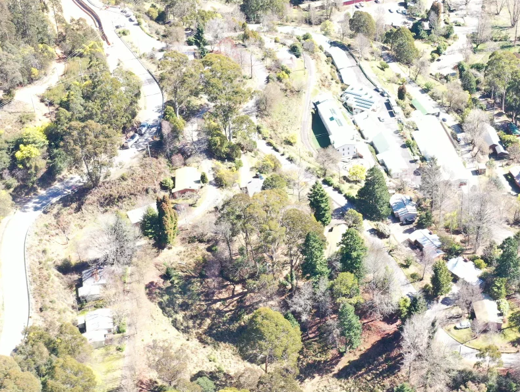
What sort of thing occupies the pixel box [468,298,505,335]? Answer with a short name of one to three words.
house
